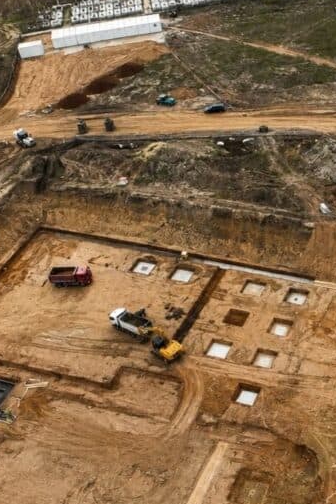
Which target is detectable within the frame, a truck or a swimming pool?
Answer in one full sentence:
The one in the frame is a truck.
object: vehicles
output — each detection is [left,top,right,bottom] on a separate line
[75,118,89,133]
[108,307,153,339]
[12,128,33,145]
[147,320,183,360]
[101,119,117,131]
[154,94,176,105]
[43,264,91,284]
[204,102,225,112]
